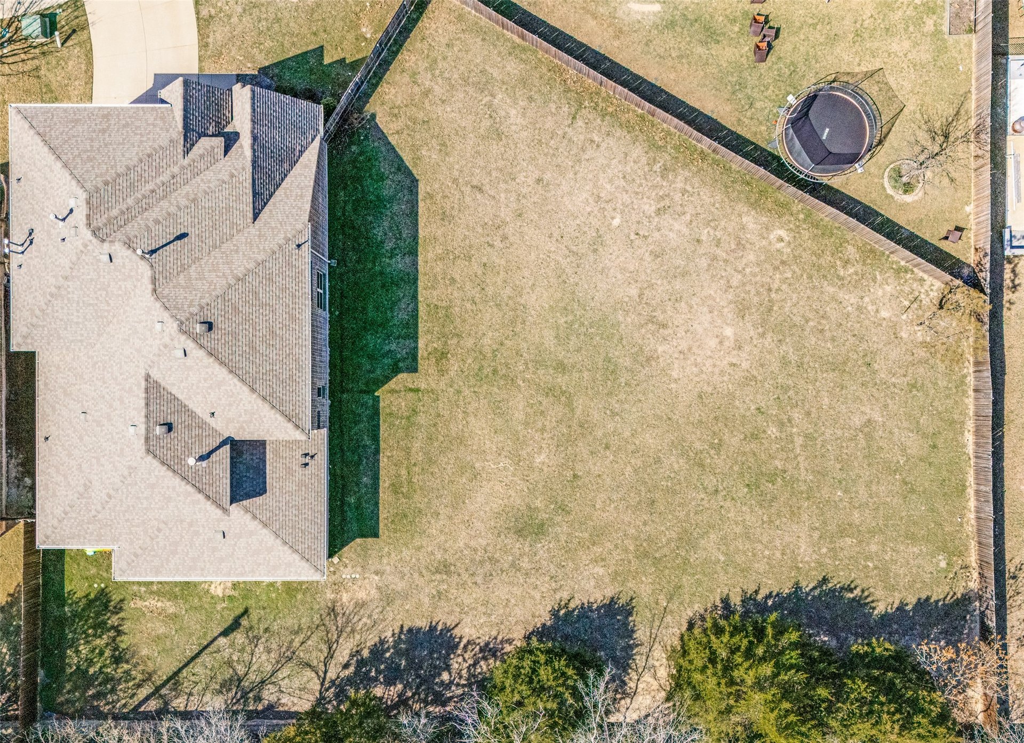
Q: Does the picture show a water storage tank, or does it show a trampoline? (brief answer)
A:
trampoline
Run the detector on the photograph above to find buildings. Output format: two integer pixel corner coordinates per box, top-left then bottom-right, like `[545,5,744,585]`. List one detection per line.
[4,78,335,583]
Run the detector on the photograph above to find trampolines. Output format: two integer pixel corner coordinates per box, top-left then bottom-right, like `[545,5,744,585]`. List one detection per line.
[769,81,887,183]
